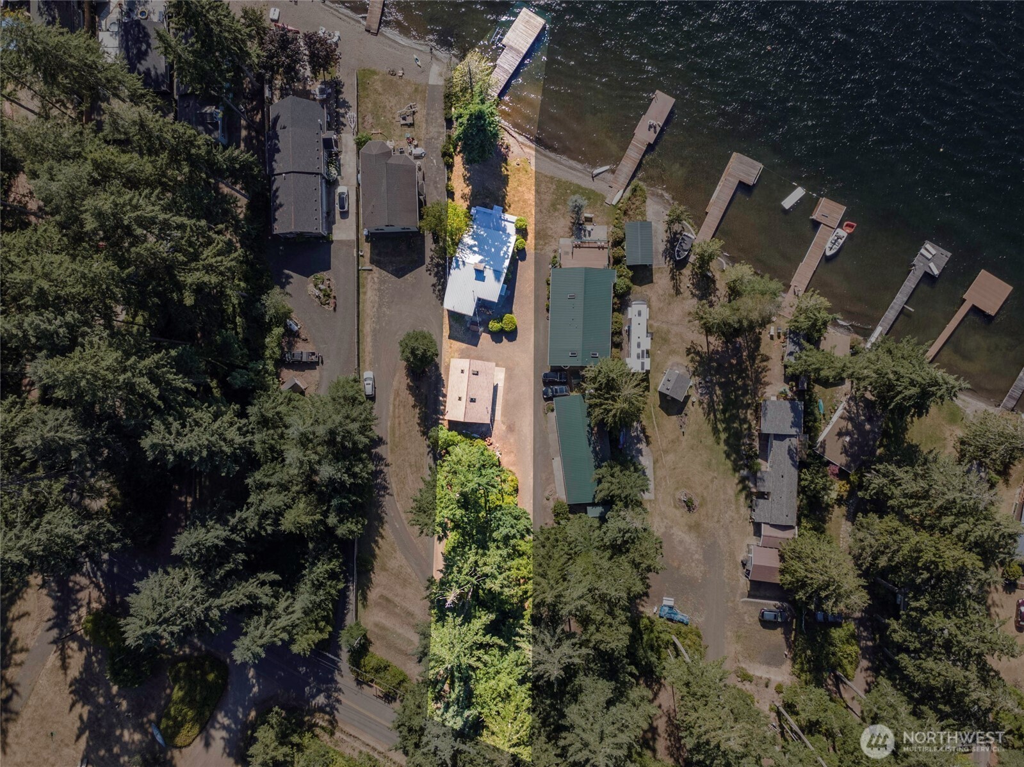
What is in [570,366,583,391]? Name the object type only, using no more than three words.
vehicle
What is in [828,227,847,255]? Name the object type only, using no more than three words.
boat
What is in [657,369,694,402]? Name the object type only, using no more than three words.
shed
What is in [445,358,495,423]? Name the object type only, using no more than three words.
building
